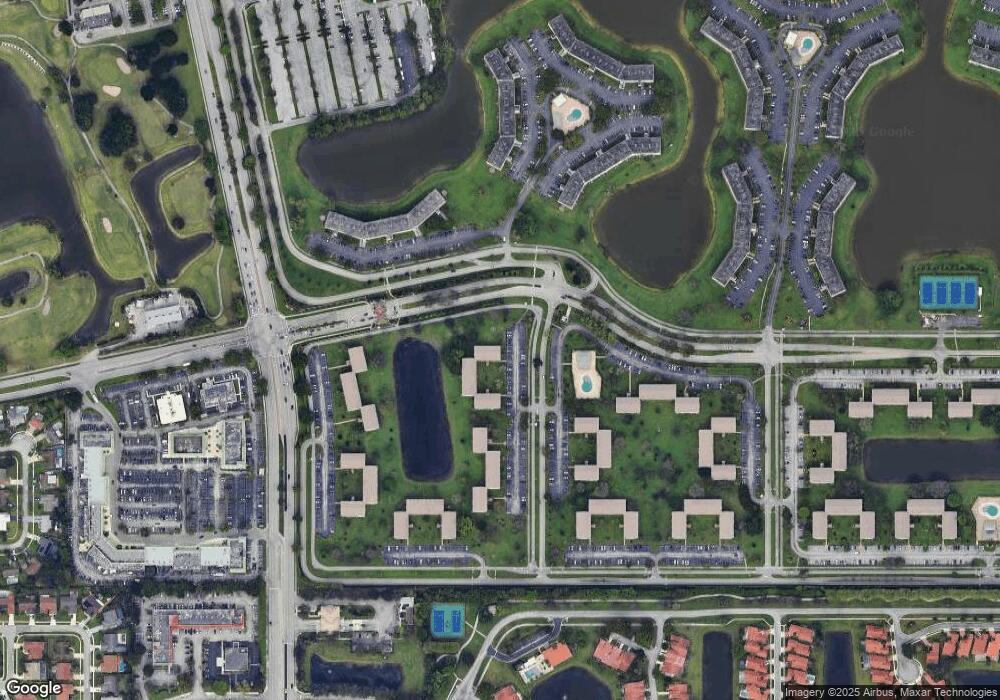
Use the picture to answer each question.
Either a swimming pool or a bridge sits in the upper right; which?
swimming pool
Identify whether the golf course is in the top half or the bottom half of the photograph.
top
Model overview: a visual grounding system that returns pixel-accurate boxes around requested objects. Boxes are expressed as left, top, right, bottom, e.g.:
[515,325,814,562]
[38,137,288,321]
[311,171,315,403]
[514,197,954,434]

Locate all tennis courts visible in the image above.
[948,275,963,309]
[450,603,466,638]
[963,275,978,309]
[920,275,935,309]
[431,603,450,638]
[935,275,948,309]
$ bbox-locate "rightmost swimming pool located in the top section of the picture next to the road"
[784,30,821,69]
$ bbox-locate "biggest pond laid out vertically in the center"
[395,339,452,479]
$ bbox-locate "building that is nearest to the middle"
[462,346,501,409]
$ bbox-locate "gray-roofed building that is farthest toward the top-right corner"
[970,42,1000,70]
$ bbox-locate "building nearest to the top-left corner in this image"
[80,4,112,29]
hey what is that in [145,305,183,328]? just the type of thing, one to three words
building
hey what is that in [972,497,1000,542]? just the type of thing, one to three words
swimming pool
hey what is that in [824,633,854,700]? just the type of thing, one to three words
pond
